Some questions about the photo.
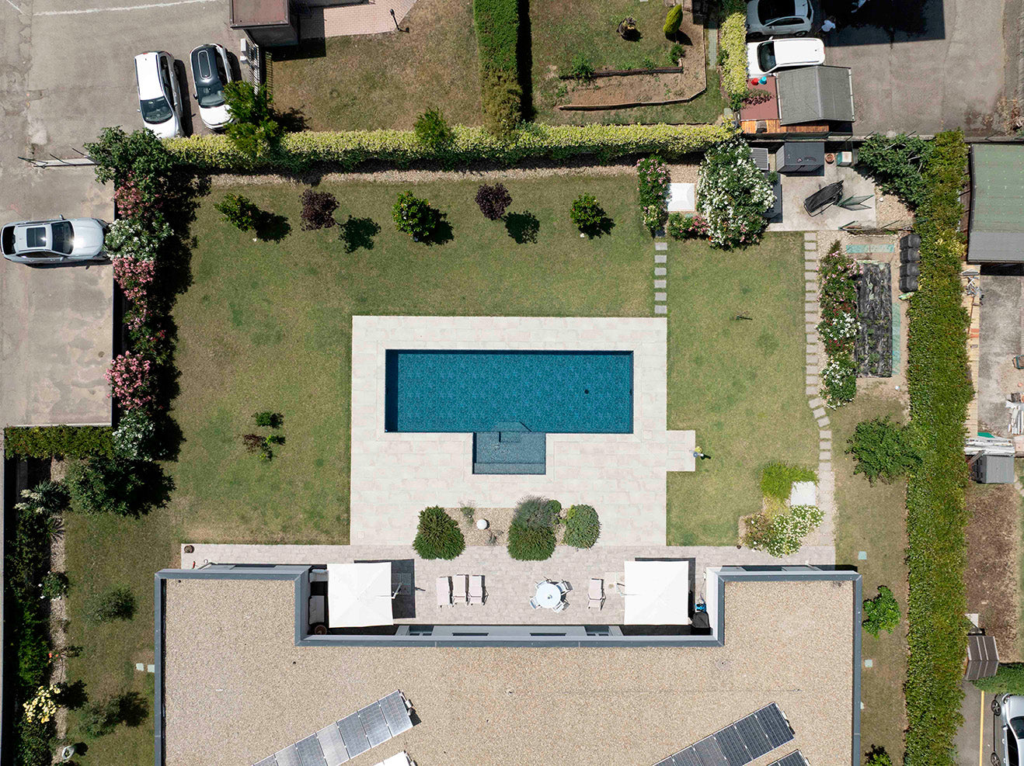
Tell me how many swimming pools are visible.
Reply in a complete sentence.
In total, there is 1 swimming pool in the scene.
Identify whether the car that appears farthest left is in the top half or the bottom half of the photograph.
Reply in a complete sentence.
You can find the car that appears farthest left in the top half.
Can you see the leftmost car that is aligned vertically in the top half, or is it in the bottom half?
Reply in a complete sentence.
It is in the top half that the leftmost car that is aligned vertically appears.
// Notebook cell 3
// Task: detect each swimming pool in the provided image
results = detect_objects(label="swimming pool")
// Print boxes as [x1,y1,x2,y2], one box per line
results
[358,341,652,539]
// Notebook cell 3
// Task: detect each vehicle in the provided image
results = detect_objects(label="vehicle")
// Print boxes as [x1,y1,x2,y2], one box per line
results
[994,695,1024,766]
[135,50,193,148]
[0,212,113,266]
[185,42,239,134]
[743,30,830,78]
[739,0,823,38]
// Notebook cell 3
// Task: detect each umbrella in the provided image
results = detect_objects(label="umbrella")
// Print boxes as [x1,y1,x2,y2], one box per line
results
[327,561,412,627]
[604,560,688,625]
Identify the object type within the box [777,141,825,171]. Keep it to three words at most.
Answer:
shed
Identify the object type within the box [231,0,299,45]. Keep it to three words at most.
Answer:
shed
